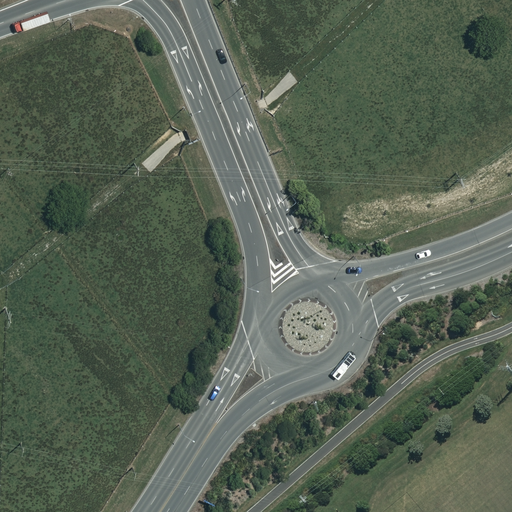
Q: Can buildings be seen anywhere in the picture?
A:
No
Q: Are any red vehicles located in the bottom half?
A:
No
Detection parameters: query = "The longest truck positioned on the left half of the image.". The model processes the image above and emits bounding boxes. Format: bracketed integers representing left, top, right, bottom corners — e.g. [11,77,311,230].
[10,12,52,34]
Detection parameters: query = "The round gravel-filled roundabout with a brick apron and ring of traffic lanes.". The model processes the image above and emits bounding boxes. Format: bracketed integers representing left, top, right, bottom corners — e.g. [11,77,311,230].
[259,278,357,376]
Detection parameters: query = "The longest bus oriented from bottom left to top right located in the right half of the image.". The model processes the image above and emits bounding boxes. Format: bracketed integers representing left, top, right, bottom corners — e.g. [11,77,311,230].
[330,349,356,382]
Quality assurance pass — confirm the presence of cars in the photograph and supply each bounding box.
[346,266,362,274]
[216,48,226,64]
[208,386,219,400]
[415,249,430,259]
